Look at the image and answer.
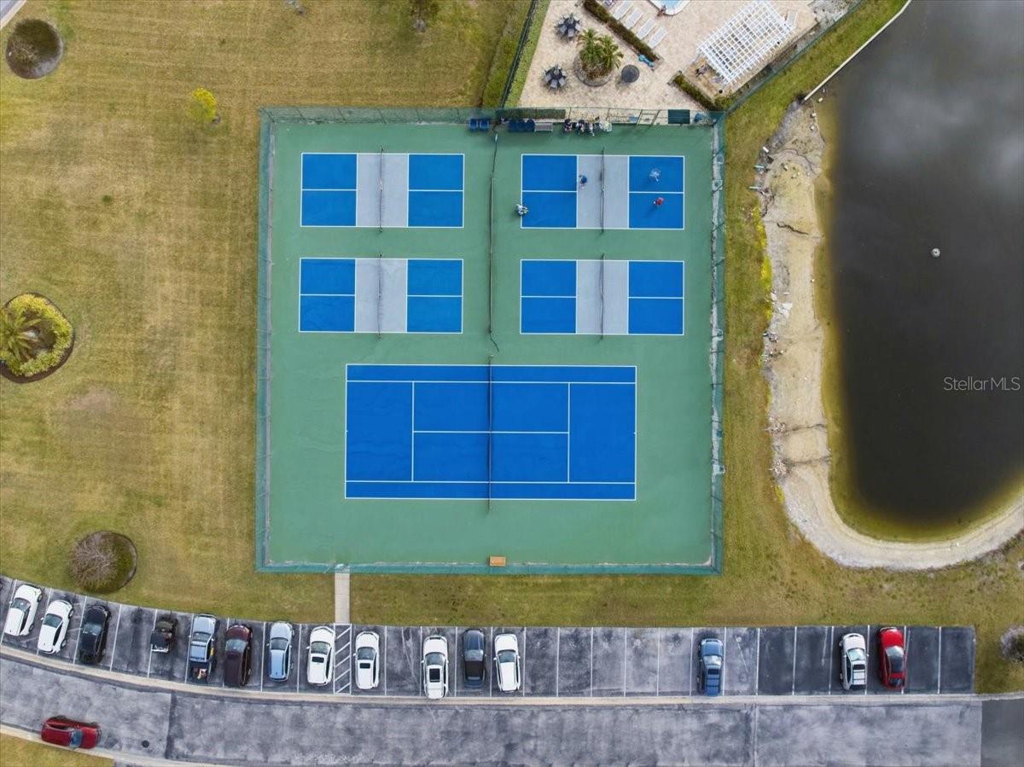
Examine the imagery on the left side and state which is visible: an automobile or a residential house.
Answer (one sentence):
Looking on the left side, you will find an automobile.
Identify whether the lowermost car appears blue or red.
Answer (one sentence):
From above, the lowermost car appears red.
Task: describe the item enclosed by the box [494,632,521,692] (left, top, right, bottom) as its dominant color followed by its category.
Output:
white car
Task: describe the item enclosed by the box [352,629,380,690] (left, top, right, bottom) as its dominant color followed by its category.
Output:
white car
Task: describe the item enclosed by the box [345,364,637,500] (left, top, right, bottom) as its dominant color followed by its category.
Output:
blue tennis court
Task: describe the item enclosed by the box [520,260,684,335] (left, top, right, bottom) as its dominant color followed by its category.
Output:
blue sports court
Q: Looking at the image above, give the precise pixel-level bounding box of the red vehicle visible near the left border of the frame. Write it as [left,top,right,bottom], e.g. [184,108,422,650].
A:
[39,716,103,751]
